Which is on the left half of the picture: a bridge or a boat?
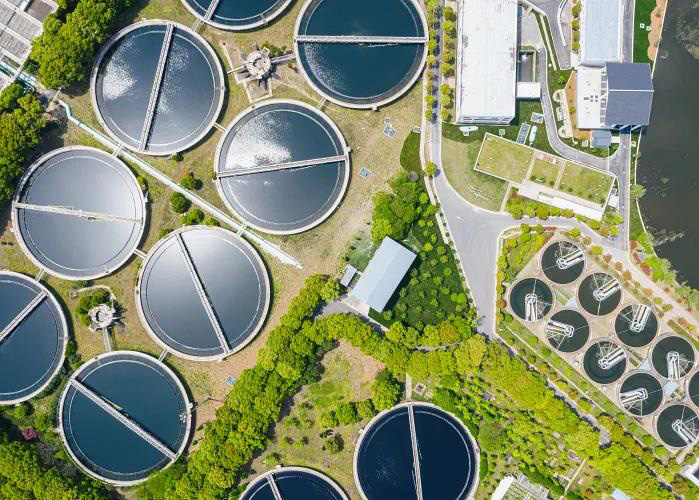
bridge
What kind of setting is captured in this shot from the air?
industrial area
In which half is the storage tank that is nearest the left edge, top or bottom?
bottom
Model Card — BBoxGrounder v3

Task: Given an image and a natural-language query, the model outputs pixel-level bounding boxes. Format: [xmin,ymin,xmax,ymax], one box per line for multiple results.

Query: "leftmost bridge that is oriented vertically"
[139,20,173,152]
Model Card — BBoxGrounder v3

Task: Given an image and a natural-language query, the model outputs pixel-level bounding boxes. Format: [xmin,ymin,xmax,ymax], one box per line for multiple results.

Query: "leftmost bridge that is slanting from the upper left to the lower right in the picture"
[70,376,177,462]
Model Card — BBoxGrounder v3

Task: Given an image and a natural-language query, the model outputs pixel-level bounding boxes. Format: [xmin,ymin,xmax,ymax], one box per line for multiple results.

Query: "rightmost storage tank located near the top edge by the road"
[294,0,427,111]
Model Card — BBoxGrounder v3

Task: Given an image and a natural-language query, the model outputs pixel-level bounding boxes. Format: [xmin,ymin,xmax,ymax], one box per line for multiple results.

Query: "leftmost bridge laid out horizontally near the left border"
[12,202,142,223]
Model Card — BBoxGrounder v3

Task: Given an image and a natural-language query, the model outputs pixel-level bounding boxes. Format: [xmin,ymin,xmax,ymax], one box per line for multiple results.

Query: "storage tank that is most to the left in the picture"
[0,270,70,405]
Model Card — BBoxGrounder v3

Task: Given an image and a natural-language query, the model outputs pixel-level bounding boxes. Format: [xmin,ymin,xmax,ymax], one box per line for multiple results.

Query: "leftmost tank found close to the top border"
[90,20,225,155]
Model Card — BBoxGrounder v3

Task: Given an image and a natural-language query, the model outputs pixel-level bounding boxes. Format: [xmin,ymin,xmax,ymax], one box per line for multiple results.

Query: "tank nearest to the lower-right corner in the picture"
[652,399,699,450]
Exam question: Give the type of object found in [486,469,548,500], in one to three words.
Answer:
building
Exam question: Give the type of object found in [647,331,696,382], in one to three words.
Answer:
storage tank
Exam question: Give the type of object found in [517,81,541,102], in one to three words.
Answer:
shed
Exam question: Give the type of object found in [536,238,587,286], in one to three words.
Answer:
storage tank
